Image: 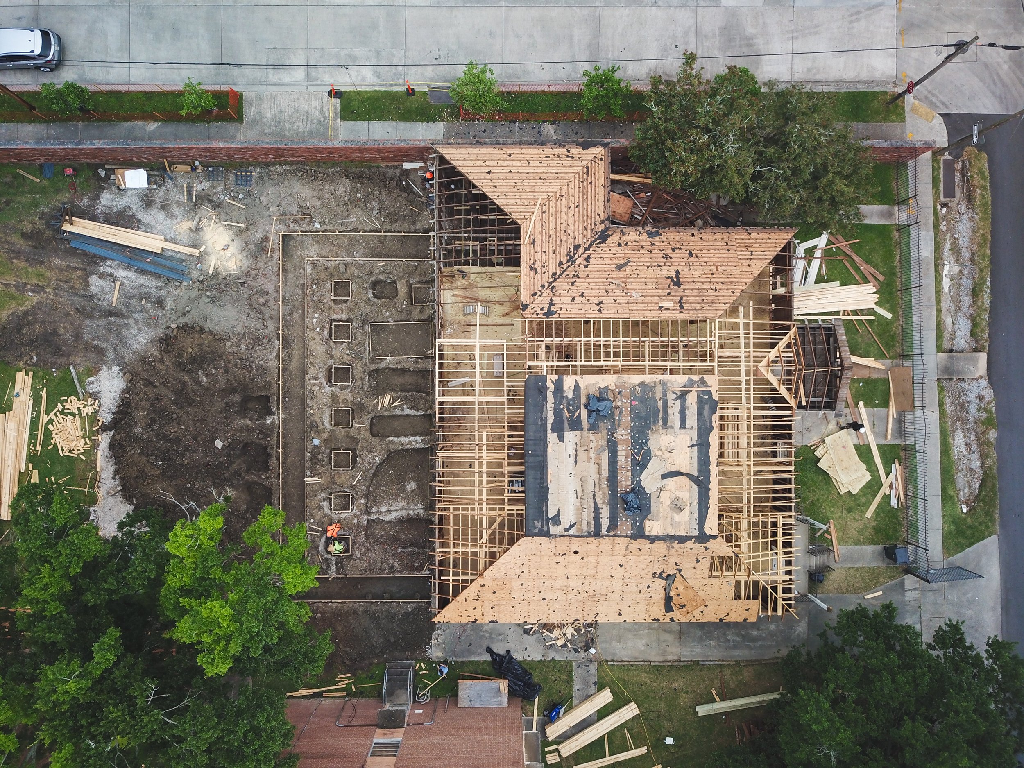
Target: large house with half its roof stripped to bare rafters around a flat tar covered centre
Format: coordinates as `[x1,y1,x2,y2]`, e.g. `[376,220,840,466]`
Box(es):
[425,142,853,624]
